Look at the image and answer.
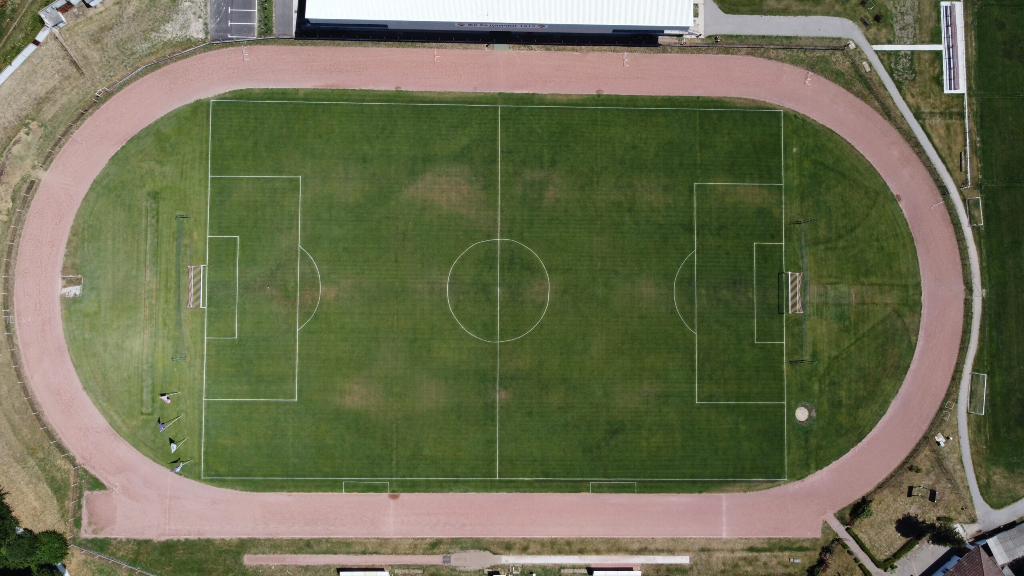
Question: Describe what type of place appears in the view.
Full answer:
This image shows a sports ground.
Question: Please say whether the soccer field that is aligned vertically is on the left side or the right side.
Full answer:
It is on the right.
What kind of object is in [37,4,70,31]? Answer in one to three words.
shed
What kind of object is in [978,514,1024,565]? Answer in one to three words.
shed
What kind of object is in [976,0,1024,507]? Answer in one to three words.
soccer field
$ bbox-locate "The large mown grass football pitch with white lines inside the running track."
[60,88,922,494]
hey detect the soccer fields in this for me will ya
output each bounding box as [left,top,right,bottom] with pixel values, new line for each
[60,88,922,494]
[976,0,1024,507]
